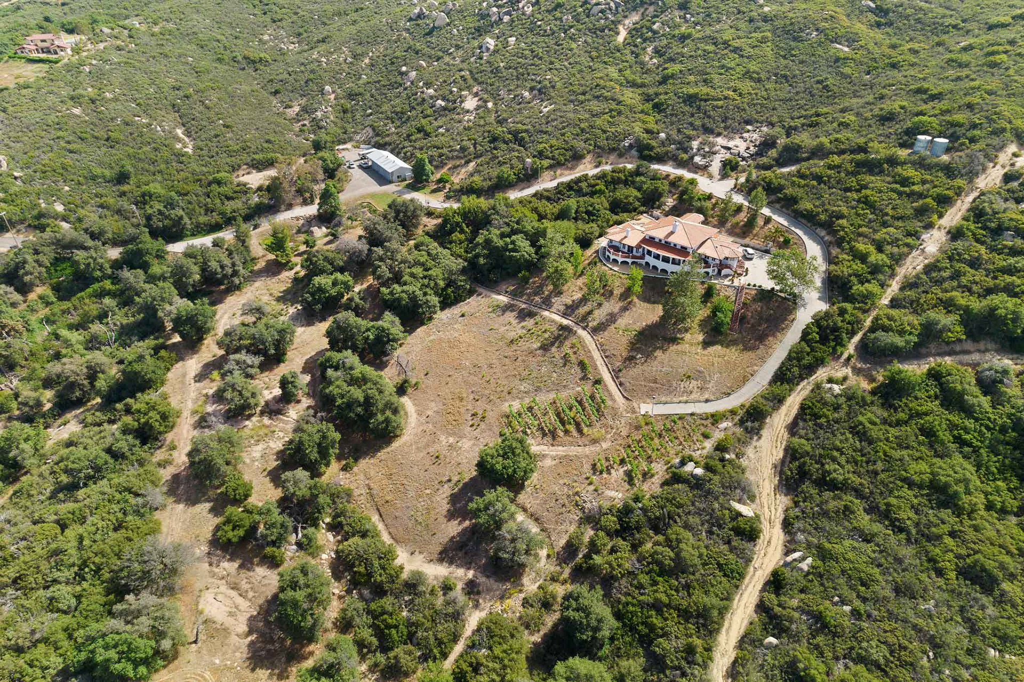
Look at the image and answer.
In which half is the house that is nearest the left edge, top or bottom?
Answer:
top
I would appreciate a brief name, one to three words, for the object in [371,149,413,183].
shed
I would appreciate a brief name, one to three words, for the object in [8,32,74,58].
house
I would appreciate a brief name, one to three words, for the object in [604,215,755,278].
house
